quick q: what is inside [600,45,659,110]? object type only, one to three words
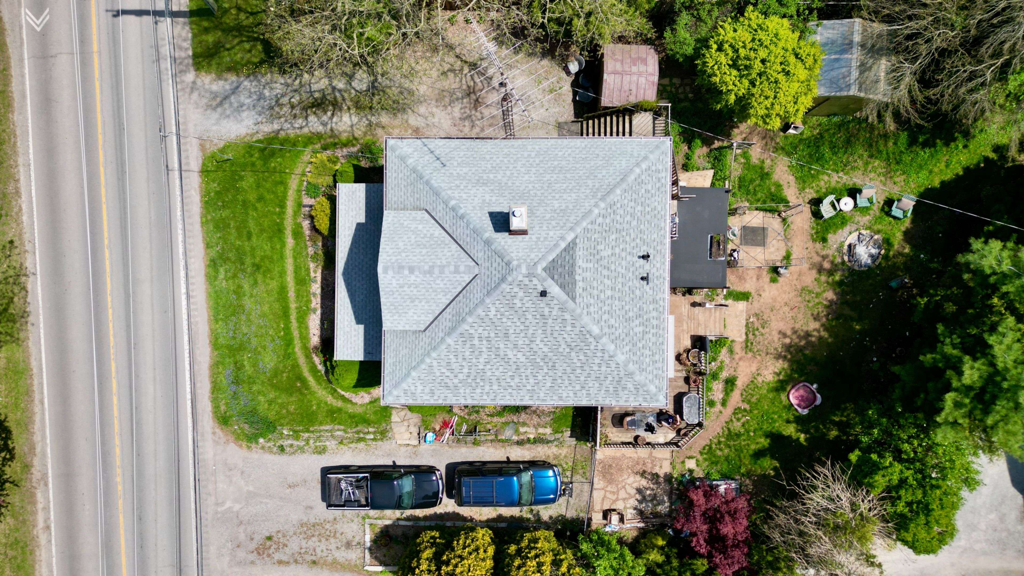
shed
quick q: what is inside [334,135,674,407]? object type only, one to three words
house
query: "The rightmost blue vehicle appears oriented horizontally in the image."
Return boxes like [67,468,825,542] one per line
[455,462,563,513]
